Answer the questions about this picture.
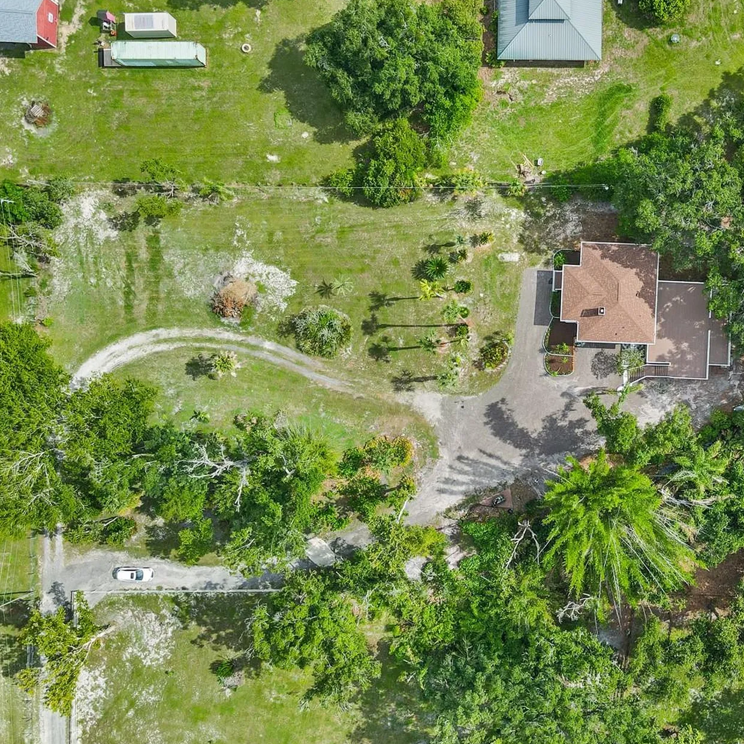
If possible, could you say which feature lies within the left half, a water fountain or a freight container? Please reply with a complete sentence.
The feature located within the left half is a freight container.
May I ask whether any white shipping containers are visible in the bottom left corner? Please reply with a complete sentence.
No, no white shipping container appears in the bottom left corner.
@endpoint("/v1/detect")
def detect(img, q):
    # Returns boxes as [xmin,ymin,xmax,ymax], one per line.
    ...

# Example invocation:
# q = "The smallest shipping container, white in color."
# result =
[125,12,178,39]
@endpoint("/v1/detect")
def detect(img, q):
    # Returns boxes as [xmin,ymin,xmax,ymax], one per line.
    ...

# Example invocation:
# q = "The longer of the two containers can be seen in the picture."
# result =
[111,40,206,67]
